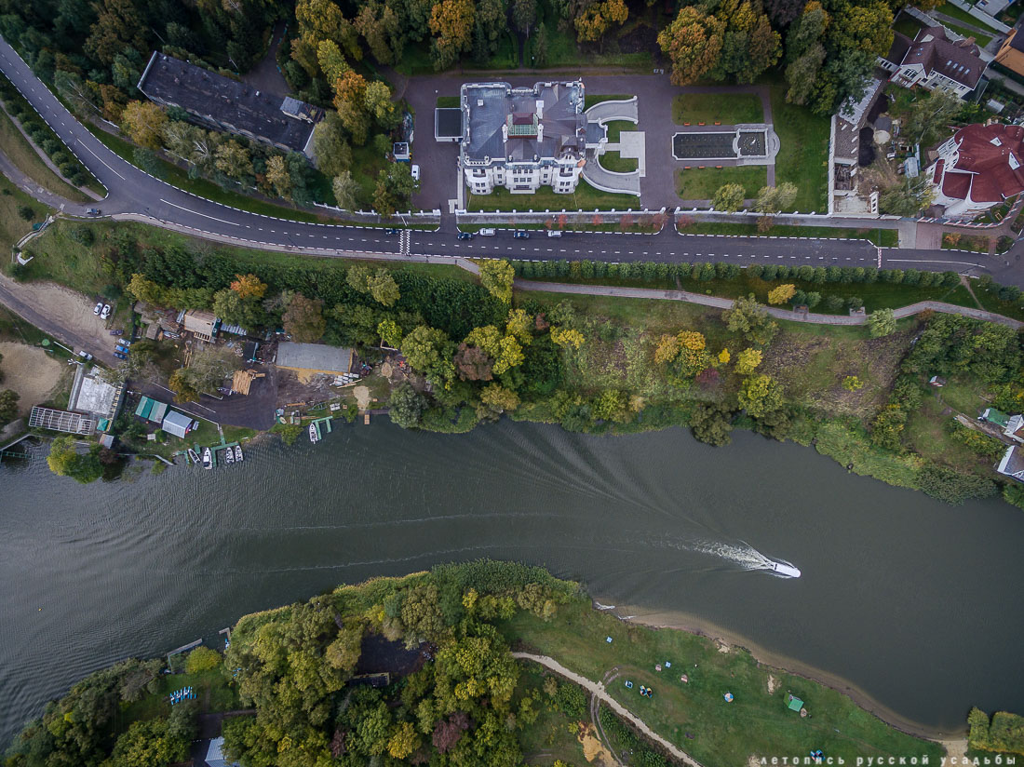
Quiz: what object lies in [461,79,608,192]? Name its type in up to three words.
house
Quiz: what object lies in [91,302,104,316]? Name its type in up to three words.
vehicle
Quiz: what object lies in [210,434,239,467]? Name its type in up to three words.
pier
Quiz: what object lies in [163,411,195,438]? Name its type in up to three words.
shed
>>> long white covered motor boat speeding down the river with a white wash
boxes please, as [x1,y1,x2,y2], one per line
[765,560,802,578]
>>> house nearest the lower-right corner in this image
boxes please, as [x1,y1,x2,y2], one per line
[989,444,1024,486]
